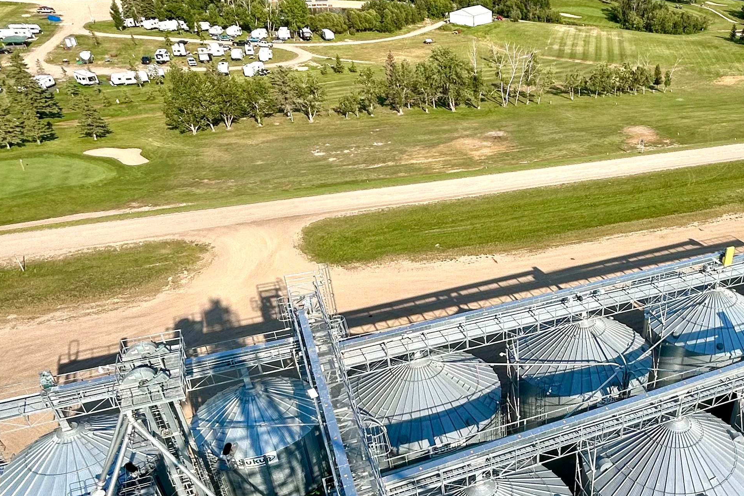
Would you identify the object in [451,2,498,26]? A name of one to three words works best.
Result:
shed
